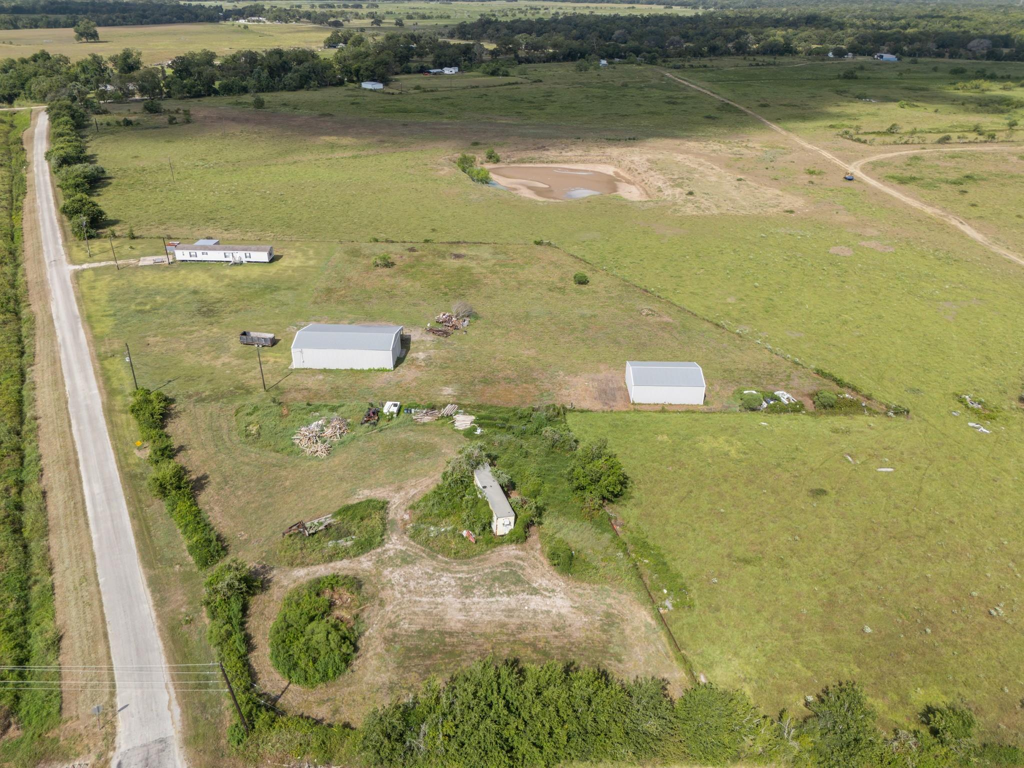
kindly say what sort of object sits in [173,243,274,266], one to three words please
house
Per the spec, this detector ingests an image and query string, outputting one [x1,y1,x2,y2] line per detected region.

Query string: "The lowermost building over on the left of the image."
[290,324,407,370]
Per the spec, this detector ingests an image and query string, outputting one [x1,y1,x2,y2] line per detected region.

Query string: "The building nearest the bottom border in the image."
[625,361,708,405]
